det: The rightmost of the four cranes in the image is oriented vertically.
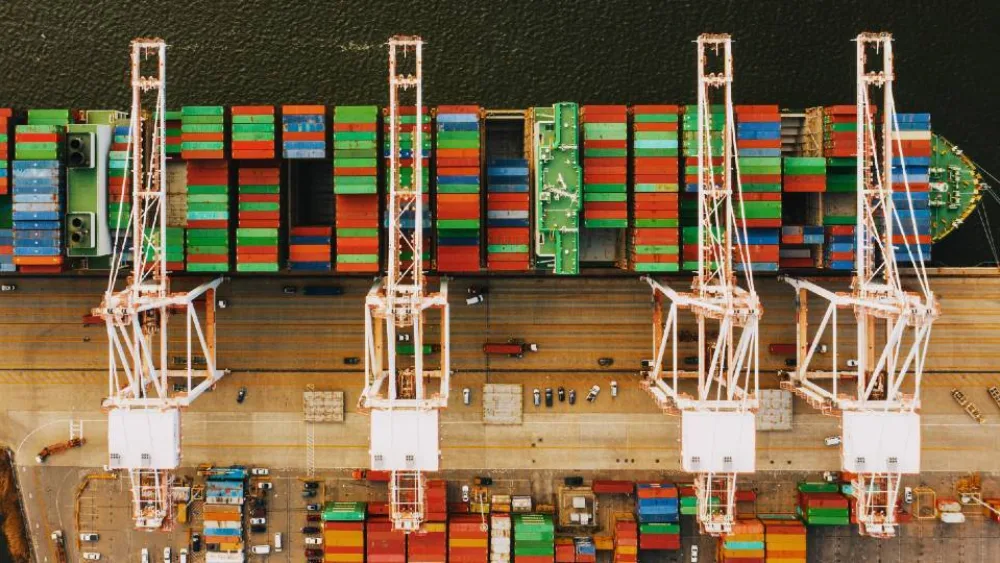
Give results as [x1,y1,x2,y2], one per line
[771,35,938,533]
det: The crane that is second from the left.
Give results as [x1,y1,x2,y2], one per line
[362,35,460,533]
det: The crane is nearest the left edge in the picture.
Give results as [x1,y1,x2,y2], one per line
[99,35,235,533]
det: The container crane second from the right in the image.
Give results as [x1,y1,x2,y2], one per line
[634,35,762,533]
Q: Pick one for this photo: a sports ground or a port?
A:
port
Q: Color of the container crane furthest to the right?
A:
white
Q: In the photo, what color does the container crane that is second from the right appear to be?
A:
white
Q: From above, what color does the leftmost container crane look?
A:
white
